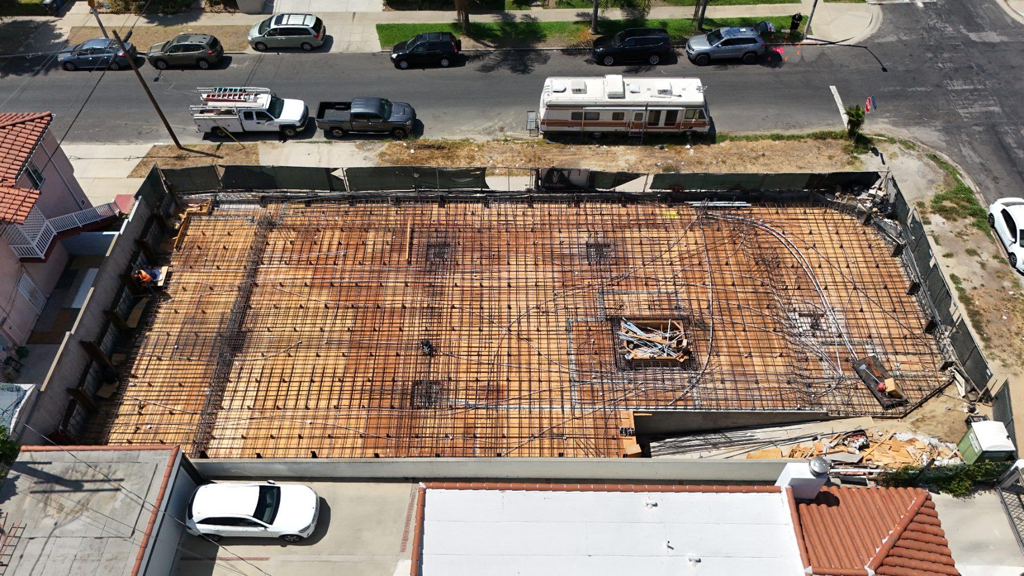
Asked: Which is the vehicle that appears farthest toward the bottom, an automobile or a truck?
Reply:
automobile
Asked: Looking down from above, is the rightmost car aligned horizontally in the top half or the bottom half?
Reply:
top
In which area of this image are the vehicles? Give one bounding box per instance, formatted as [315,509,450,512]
[244,10,330,51]
[54,35,141,71]
[145,30,227,69]
[184,475,320,540]
[590,23,674,65]
[311,94,419,138]
[176,83,314,138]
[387,29,465,68]
[683,17,786,64]
[534,75,712,146]
[986,199,1024,275]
